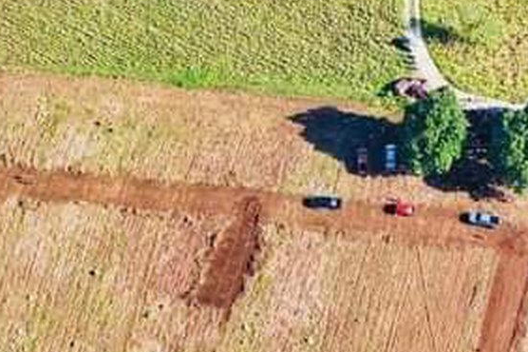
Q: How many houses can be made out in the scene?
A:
0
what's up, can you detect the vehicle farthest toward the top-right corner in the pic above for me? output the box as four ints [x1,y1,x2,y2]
[395,80,429,98]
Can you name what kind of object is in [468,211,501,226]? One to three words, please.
vehicle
